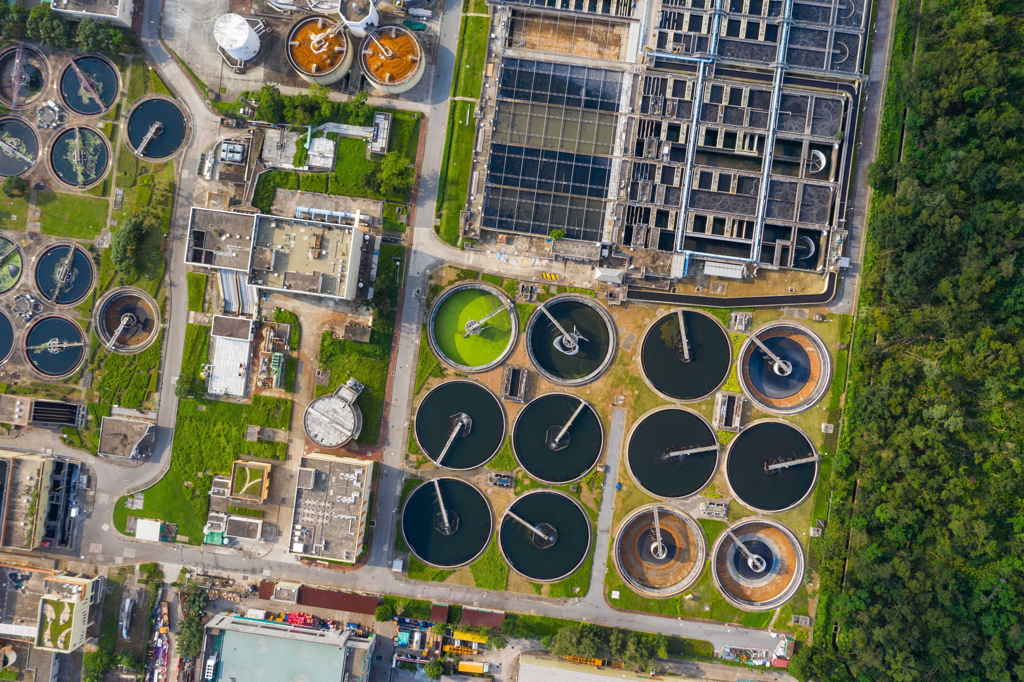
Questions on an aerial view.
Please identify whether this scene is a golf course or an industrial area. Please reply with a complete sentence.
What you see here is an industrial area.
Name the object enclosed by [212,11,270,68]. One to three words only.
storage tank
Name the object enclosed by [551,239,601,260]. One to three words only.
building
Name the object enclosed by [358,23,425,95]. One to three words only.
storage tank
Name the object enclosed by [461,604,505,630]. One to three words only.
shed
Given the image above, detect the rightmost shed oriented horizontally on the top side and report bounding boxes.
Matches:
[703,261,744,278]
